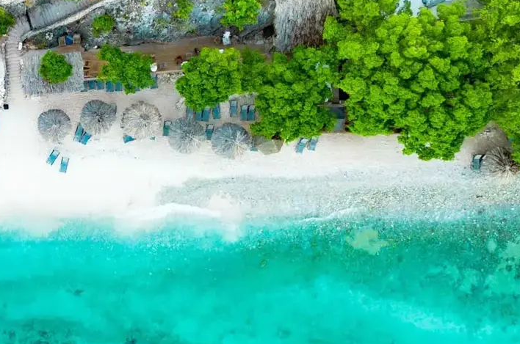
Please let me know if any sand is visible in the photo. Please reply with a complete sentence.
Yes, there is sand in the image.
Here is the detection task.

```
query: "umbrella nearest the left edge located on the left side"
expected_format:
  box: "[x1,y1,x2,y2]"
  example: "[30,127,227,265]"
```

[35,107,72,144]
